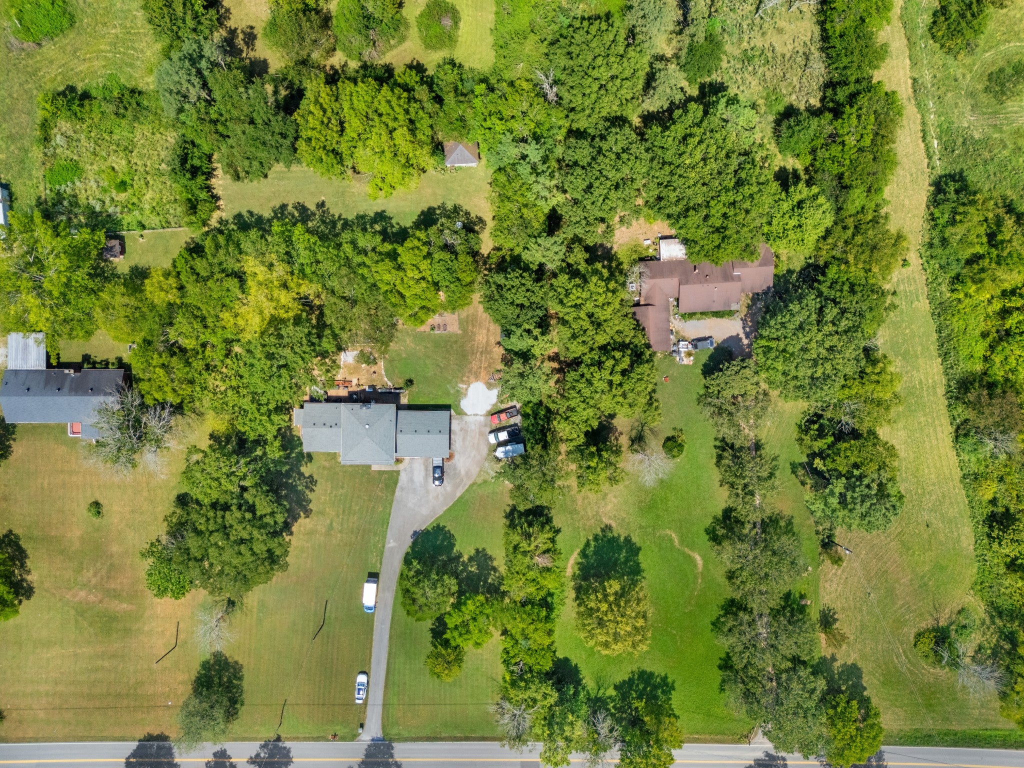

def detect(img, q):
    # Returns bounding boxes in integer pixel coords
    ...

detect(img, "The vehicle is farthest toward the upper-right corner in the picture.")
[690,337,716,351]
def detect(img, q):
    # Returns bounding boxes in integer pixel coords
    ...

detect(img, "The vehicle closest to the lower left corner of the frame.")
[353,673,366,702]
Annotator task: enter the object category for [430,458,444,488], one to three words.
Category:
vehicle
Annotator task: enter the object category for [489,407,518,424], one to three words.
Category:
vehicle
